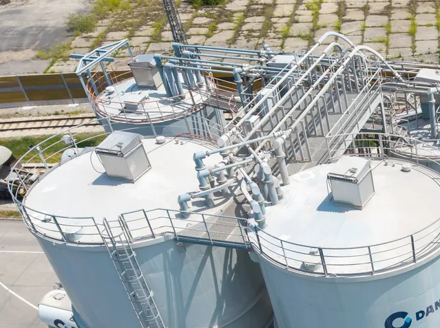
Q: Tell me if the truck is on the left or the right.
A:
left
